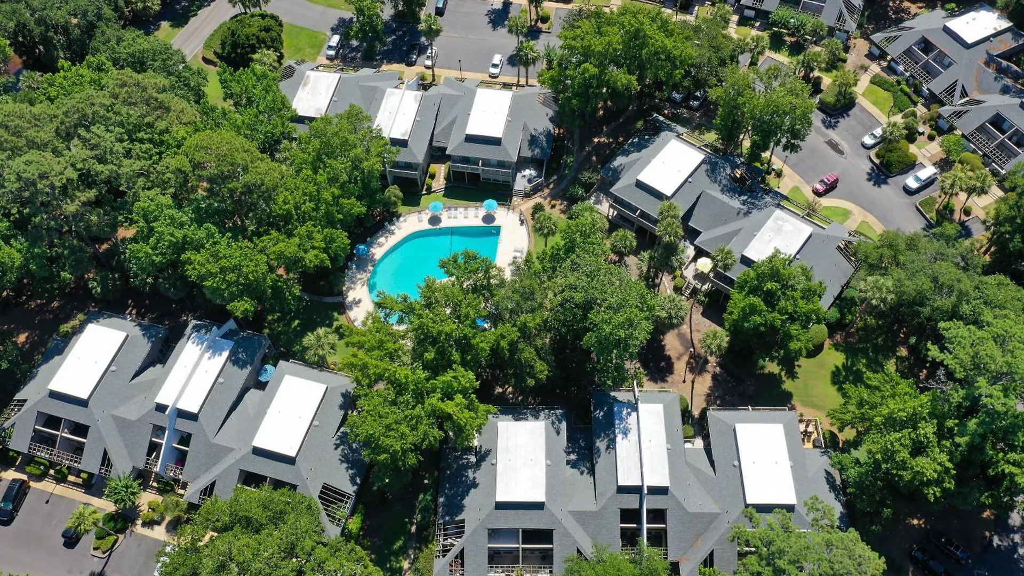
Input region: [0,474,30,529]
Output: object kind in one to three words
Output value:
car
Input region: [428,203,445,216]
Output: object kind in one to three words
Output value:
umbrella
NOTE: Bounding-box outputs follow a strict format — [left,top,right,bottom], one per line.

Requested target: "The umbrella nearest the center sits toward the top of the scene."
[482,201,499,214]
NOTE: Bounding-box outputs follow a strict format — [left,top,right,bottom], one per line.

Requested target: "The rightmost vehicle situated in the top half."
[902,161,941,191]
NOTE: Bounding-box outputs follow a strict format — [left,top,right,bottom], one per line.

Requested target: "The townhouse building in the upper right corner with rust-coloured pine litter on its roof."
[870,5,1024,176]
